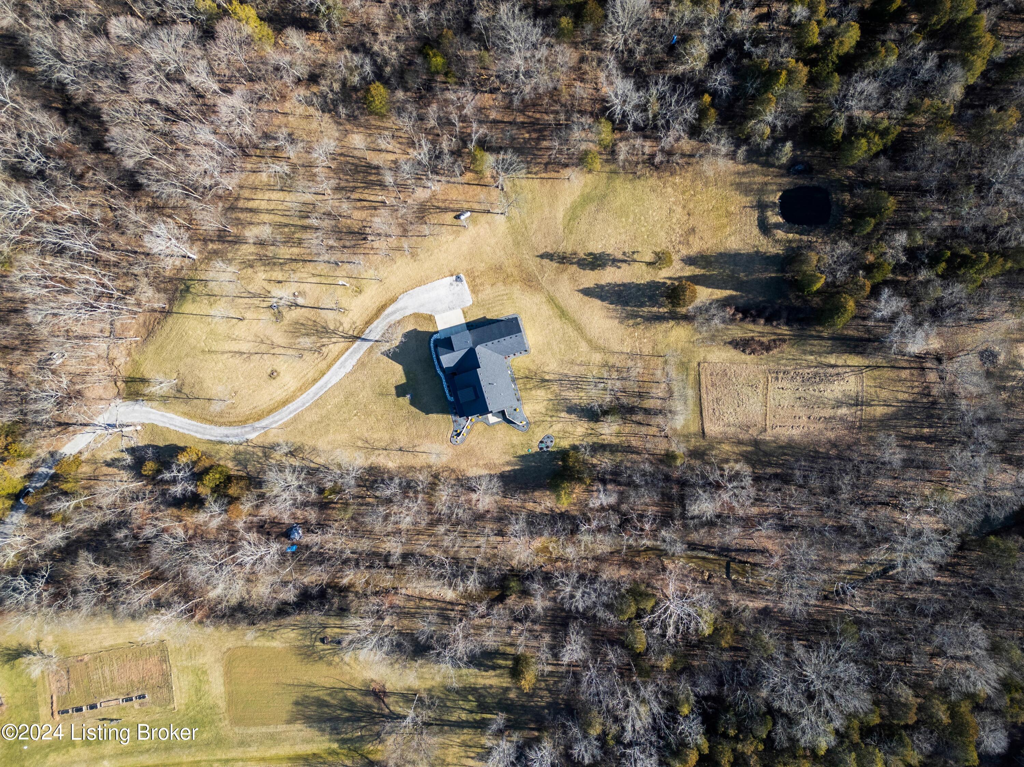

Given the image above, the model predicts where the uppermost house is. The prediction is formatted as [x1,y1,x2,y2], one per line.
[437,316,526,420]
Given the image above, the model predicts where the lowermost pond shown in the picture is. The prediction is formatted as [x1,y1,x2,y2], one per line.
[777,186,831,227]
